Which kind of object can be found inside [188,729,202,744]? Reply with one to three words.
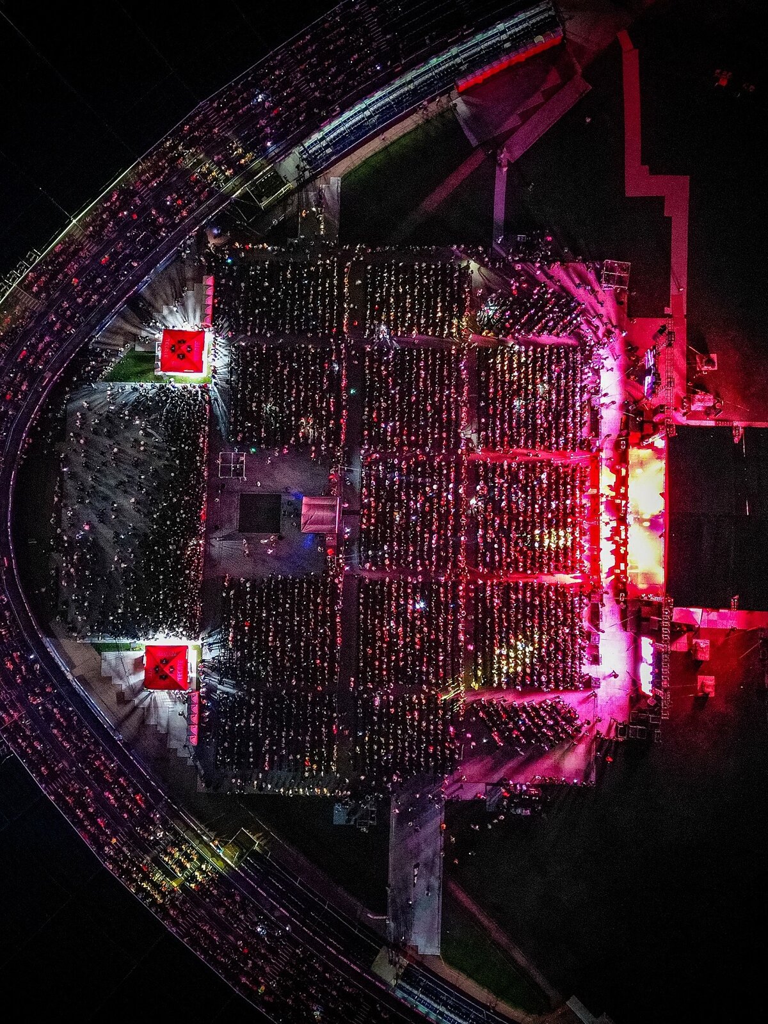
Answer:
gazebo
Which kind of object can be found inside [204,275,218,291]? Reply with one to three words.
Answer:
gazebo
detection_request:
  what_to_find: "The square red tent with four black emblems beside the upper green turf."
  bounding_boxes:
[156,329,211,377]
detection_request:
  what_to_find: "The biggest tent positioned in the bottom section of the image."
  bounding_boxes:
[145,641,196,690]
